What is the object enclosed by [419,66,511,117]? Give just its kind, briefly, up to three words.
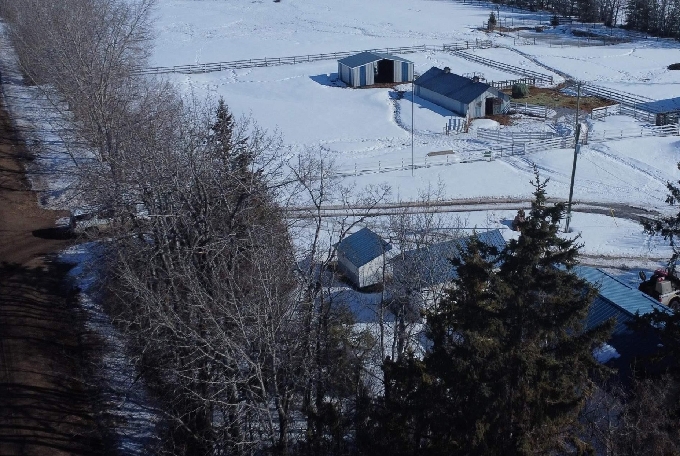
barn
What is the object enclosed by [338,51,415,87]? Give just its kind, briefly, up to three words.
shed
